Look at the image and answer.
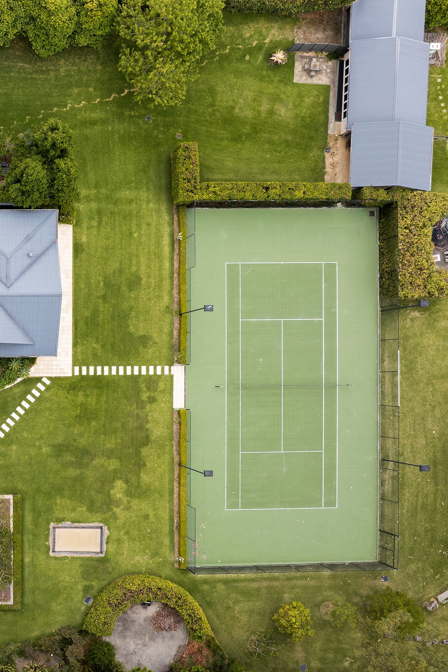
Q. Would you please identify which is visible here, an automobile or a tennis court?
tennis court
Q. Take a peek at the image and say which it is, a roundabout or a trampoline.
trampoline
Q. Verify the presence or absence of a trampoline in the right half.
No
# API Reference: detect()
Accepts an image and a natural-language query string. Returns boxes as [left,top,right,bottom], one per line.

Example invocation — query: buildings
[339,0,435,191]
[0,208,64,358]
